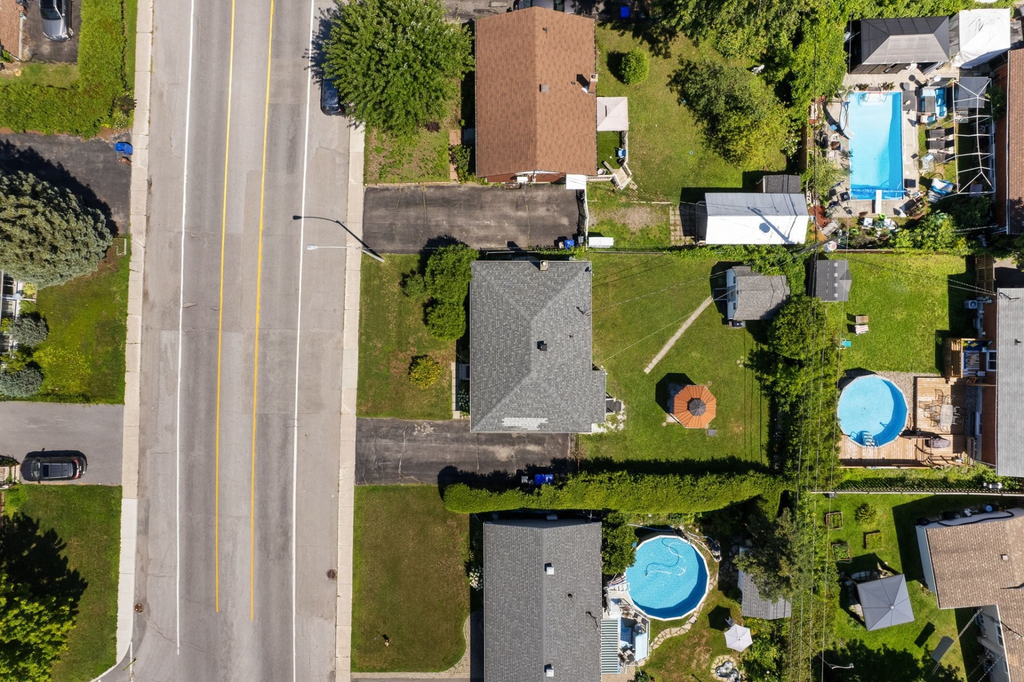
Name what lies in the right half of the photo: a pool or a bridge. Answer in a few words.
pool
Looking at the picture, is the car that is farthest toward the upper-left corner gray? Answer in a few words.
Yes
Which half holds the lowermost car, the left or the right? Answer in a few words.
left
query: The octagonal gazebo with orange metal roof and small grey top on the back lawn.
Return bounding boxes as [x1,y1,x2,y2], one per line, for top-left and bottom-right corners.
[667,385,716,429]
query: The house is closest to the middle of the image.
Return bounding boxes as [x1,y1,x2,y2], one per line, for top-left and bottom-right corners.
[469,260,607,433]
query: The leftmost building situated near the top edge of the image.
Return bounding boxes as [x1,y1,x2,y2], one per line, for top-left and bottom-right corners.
[474,9,601,180]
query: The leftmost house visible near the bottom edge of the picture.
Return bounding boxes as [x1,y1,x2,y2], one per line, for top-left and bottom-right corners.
[483,517,602,682]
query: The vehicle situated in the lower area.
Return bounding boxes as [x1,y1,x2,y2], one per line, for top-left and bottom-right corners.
[21,453,89,485]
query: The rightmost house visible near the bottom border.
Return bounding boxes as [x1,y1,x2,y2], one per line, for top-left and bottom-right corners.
[915,506,1024,682]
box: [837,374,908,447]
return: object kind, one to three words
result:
swimming pool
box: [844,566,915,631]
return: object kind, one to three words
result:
gazebo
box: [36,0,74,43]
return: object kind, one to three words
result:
car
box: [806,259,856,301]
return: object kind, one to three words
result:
shed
